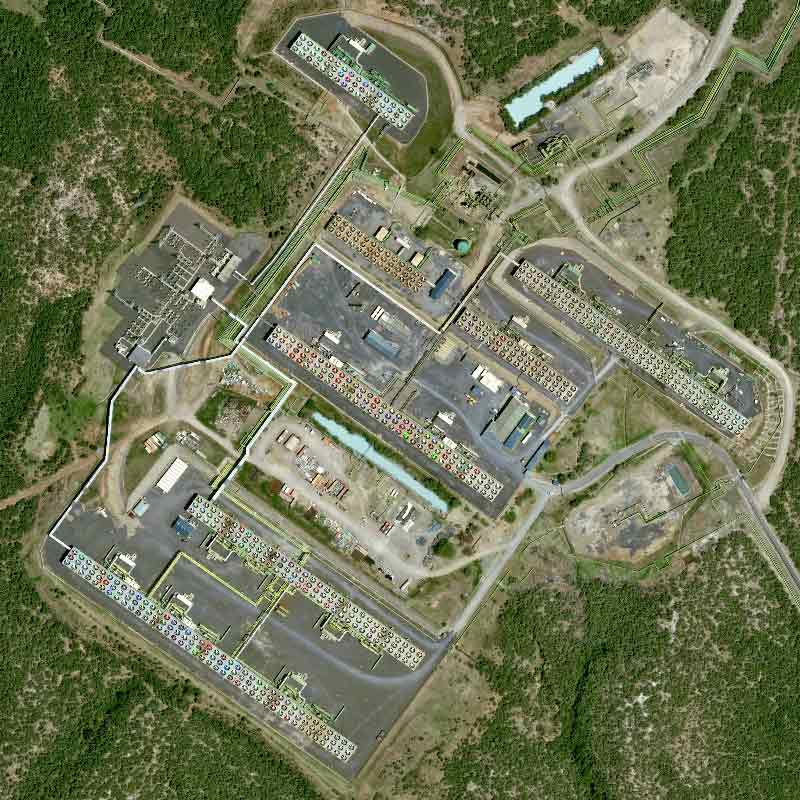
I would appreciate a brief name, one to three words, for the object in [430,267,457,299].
building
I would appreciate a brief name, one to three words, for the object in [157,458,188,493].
building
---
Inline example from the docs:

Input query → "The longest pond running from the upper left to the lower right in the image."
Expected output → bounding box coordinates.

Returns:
[311,409,449,515]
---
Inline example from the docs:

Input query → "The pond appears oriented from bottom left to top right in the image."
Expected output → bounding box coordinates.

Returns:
[504,44,602,130]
